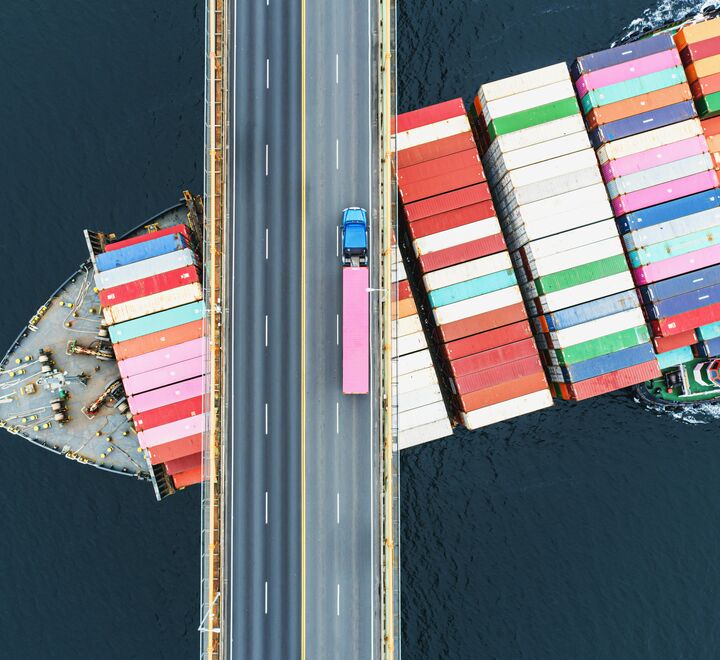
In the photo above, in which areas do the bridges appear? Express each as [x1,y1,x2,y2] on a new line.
[200,0,399,660]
